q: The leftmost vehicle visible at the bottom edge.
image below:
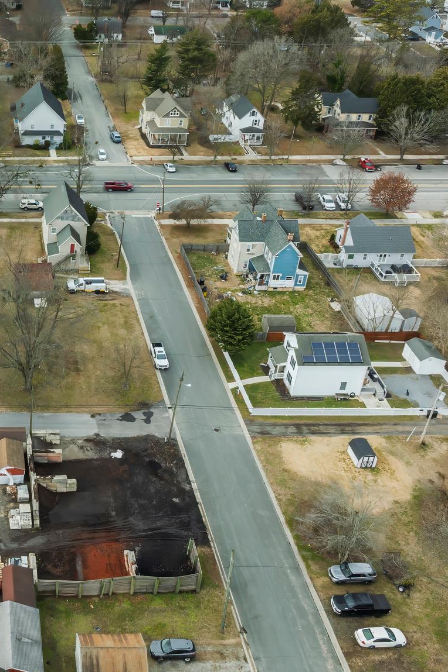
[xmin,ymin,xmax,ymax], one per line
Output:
[145,633,203,663]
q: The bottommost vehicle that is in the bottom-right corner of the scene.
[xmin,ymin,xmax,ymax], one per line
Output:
[352,623,412,651]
